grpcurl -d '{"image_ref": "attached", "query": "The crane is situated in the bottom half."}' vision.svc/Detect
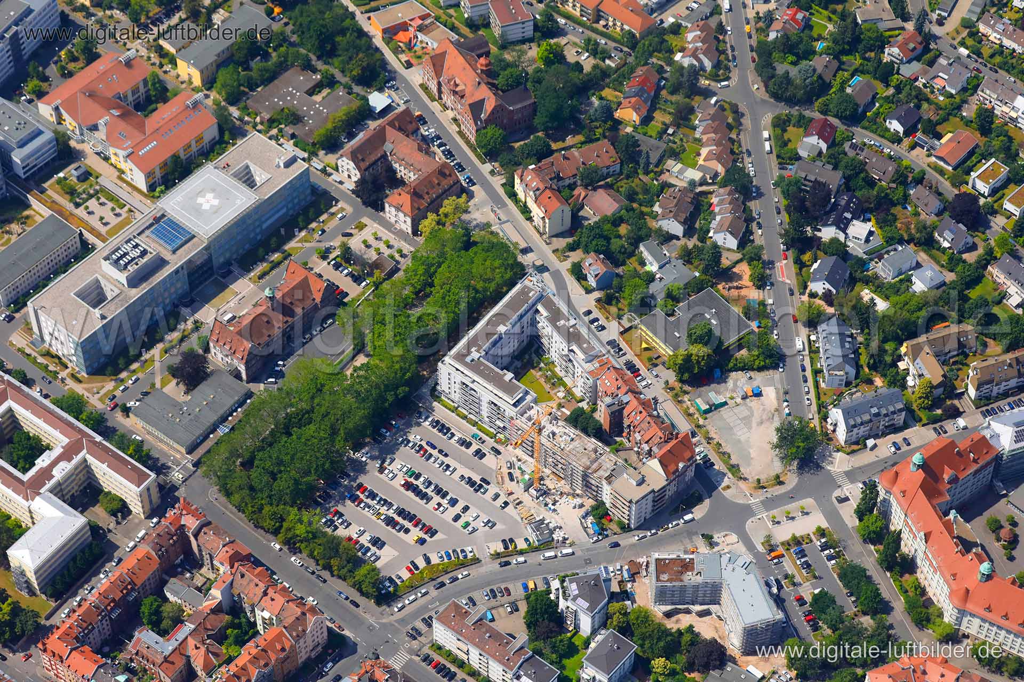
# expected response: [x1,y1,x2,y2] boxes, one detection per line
[512,354,604,498]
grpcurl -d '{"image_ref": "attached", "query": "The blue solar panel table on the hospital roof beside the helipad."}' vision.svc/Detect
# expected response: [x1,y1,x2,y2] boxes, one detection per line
[148,217,192,252]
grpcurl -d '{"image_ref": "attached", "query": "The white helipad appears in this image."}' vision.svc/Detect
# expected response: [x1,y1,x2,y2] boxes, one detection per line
[152,161,265,243]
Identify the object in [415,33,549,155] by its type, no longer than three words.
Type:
building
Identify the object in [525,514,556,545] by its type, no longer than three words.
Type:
shed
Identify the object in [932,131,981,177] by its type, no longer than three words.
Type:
house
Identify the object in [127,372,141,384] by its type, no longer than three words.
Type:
vehicle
